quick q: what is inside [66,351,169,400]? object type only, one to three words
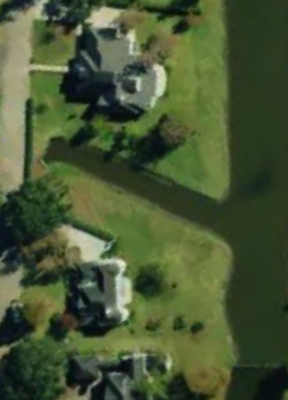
house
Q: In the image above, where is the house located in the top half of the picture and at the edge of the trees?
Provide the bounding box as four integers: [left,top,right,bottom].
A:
[74,21,164,119]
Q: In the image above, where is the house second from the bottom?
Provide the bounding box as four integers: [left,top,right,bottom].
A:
[72,257,131,325]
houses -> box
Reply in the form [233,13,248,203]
[72,257,131,325]
[66,351,169,400]
[74,21,164,119]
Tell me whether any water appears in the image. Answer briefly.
Yes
